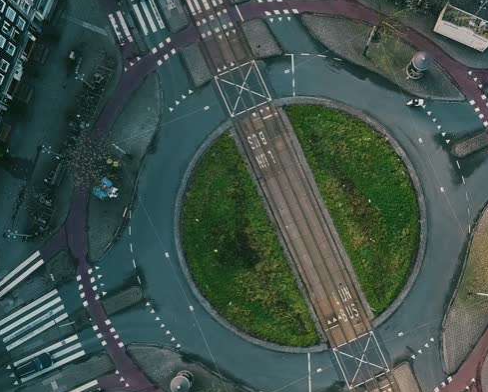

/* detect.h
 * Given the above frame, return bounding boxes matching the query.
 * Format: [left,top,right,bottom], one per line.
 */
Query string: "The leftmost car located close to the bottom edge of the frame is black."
[10,352,52,380]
